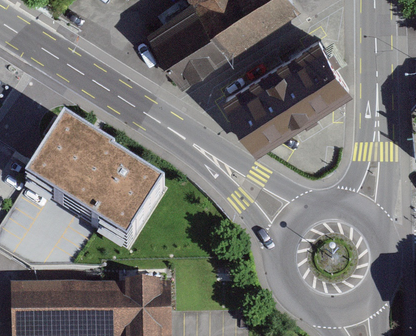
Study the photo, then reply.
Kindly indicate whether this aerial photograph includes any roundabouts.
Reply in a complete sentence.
Yes, a roundabout is visible in the scene.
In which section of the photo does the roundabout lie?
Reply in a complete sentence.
Look in the bottom right portion of the view to spot the roundabout.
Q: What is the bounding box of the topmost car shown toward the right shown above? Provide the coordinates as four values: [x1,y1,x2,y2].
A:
[246,64,267,80]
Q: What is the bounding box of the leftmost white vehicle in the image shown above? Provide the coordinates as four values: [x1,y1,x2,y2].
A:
[3,174,26,192]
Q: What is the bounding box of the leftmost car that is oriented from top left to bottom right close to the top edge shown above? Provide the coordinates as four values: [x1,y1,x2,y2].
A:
[64,10,86,27]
